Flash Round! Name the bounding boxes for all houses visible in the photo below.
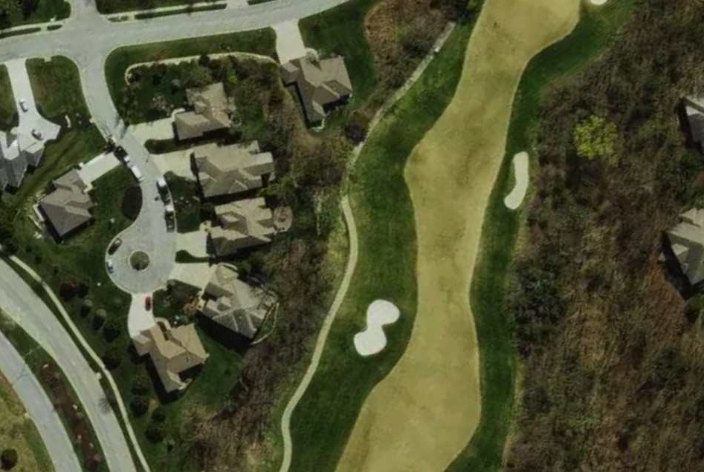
[0,130,44,189]
[129,321,207,393]
[279,52,355,121]
[204,195,275,256]
[194,139,278,195]
[172,79,235,138]
[669,205,704,288]
[199,262,276,337]
[681,89,704,159]
[37,169,100,237]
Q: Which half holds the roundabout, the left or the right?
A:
left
